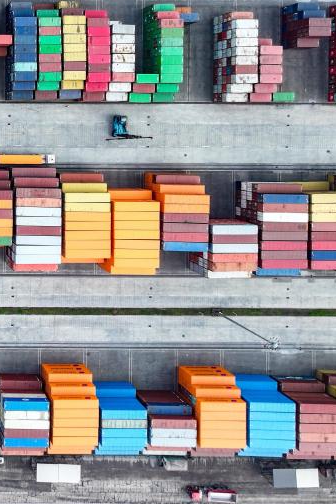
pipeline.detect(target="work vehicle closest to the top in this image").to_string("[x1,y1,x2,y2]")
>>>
[105,111,154,142]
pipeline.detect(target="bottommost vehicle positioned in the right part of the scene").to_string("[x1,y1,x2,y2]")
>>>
[191,487,235,503]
